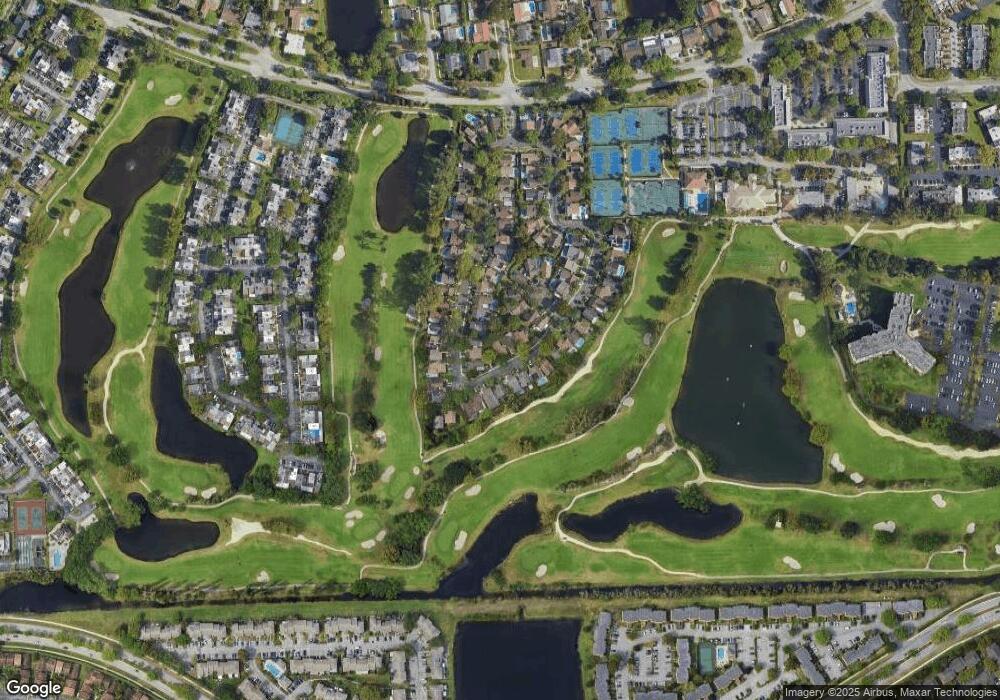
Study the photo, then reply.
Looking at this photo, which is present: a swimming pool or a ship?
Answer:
swimming pool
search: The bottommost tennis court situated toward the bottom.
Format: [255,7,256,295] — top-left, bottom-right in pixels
[698,643,714,674]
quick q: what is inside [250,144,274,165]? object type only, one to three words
swimming pool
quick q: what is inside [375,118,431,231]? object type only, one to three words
pond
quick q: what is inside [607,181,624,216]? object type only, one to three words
tennis court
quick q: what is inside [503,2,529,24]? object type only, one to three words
house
